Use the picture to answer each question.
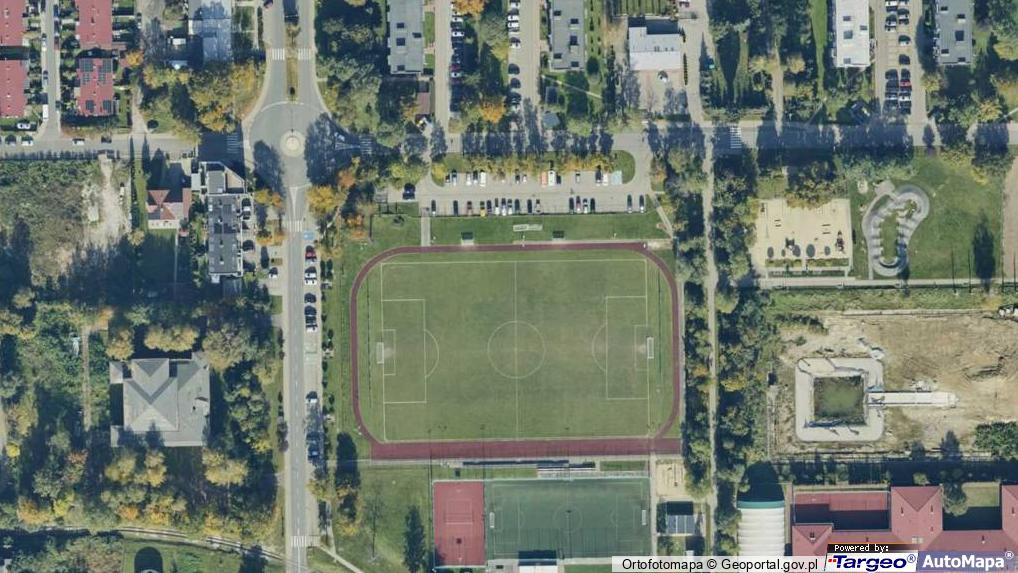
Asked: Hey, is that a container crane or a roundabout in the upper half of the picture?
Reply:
roundabout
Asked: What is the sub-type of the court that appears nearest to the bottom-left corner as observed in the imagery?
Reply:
basketball court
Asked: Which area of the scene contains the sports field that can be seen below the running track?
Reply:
bottom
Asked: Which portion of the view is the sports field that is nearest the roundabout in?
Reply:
center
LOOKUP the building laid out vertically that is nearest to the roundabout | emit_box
[201,161,249,283]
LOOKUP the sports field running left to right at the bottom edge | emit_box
[485,478,651,560]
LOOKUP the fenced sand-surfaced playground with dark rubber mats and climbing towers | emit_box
[751,198,851,276]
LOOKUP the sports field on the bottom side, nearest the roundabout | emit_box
[357,249,673,442]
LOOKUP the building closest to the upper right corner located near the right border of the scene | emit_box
[930,0,973,67]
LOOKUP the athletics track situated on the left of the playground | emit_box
[350,242,680,461]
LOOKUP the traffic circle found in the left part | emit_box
[248,97,339,189]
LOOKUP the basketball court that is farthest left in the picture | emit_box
[433,481,485,567]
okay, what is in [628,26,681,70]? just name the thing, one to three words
building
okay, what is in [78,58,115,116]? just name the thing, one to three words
house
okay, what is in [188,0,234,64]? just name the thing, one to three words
building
